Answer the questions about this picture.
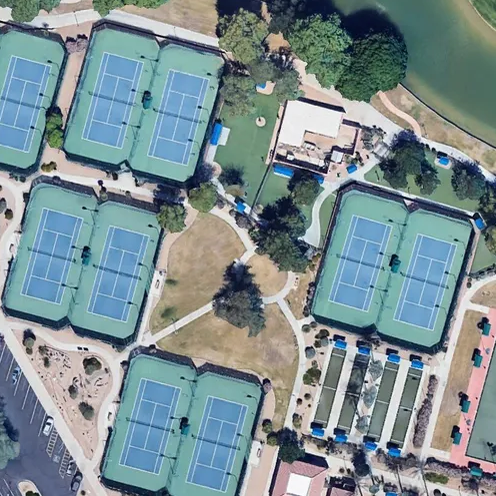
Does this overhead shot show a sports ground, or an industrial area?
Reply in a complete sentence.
The picture captures a sports ground.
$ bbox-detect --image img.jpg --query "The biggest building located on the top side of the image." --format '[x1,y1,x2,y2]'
[271,100,358,179]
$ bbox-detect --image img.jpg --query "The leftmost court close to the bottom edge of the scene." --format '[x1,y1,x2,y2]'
[102,352,198,496]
